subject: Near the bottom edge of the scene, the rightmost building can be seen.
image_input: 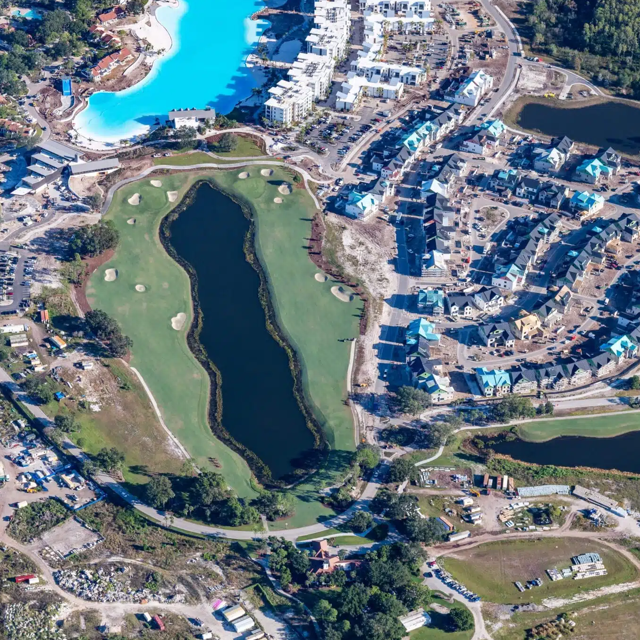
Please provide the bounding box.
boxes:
[404,608,431,636]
